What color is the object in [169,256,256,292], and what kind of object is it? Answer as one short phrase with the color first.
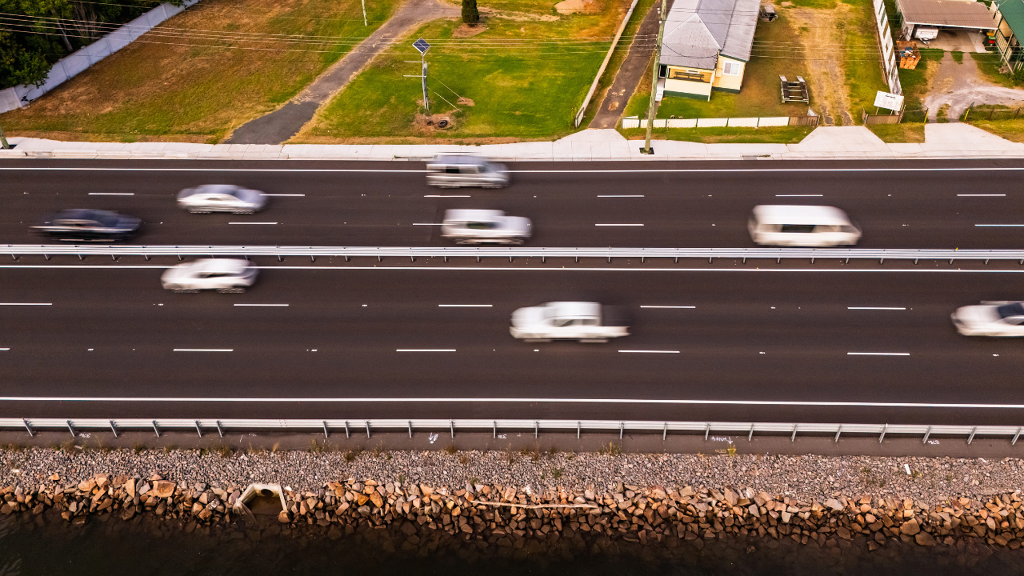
white car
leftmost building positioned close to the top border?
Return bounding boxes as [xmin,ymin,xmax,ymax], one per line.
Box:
[655,0,757,102]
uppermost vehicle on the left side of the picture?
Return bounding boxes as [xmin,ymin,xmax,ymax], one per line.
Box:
[182,181,266,212]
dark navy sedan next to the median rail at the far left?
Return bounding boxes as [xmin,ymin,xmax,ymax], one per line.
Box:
[40,207,136,239]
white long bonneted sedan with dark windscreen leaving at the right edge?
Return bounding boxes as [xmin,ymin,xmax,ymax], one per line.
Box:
[948,296,1024,335]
